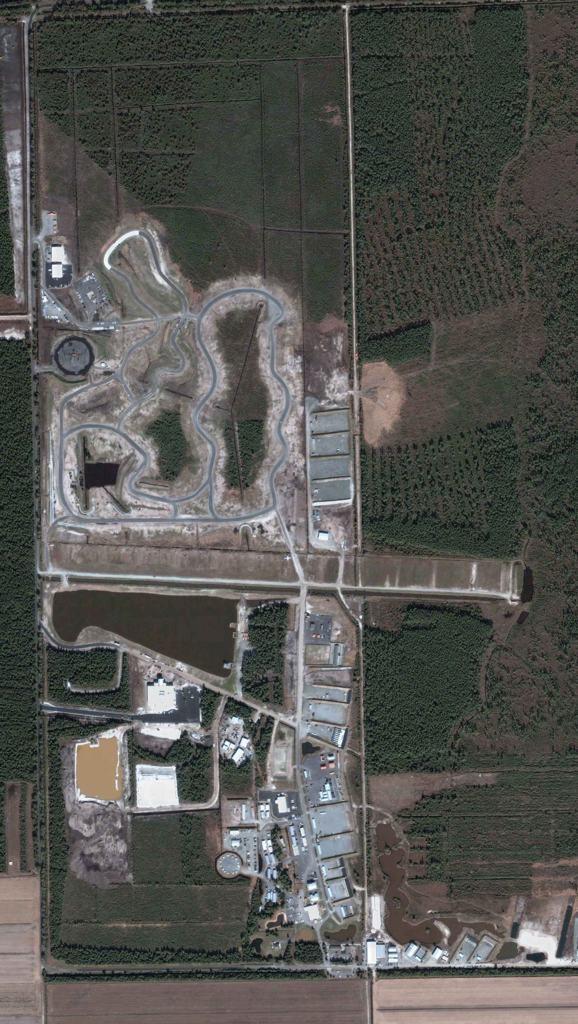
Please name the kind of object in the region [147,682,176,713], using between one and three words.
building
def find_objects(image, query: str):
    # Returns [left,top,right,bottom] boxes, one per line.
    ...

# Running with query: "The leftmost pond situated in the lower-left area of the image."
[75,736,123,801]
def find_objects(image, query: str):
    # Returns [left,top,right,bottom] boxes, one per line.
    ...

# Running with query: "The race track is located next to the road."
[44,230,290,570]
